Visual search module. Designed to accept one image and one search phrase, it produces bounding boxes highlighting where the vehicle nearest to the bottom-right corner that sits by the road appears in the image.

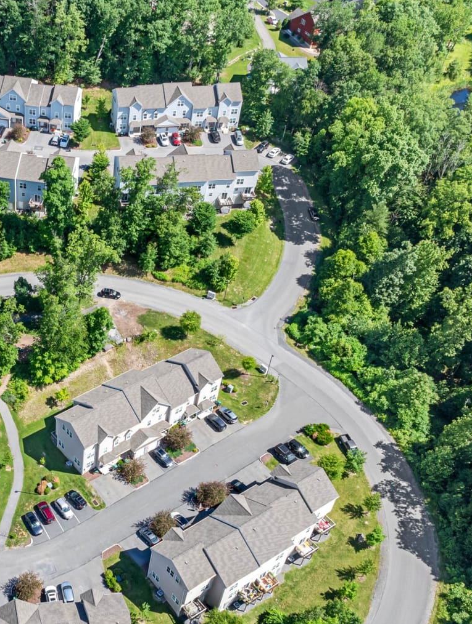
[334,428,363,452]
